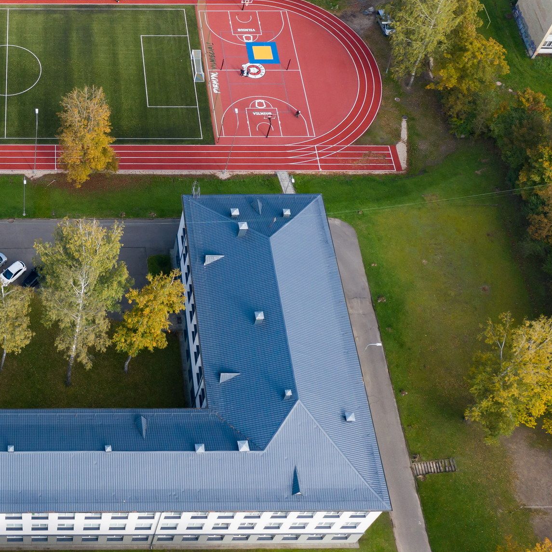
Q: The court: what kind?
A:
basketball court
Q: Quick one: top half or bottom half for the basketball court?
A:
top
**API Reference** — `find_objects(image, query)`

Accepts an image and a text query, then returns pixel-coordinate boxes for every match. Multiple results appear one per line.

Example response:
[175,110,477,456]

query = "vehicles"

[0,259,27,287]
[374,12,392,34]
[19,265,47,293]
[0,250,8,265]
